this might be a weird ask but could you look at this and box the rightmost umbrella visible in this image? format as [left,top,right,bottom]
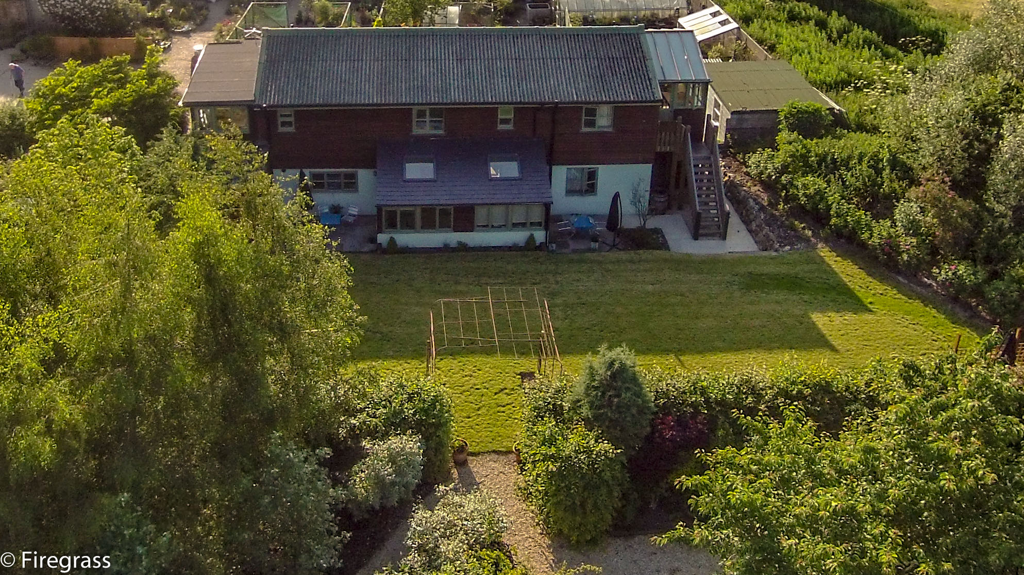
[604,196,622,250]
